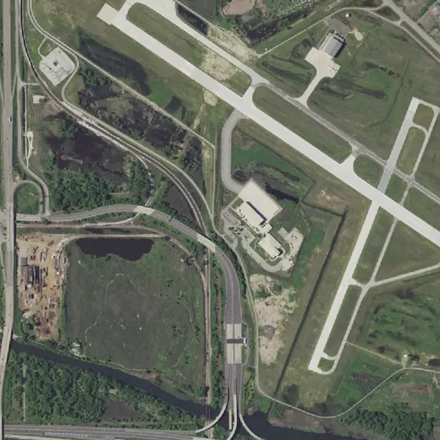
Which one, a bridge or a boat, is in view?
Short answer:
bridge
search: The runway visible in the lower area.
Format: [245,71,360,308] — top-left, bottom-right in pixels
[308,200,378,372]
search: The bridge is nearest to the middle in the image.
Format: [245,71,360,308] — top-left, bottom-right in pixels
[95,203,223,256]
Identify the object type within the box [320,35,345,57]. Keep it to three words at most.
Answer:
hangar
